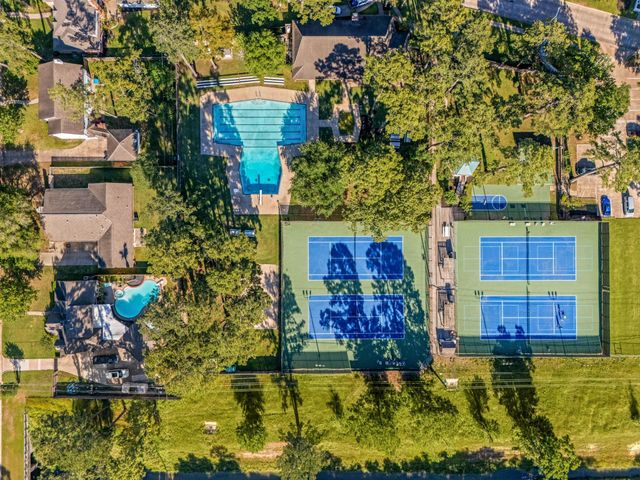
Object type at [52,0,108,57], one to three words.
house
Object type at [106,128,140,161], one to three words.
building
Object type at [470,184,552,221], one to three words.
basketball court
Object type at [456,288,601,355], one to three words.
tennis court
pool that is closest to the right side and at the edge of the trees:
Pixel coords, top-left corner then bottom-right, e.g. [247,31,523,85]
[213,90,307,196]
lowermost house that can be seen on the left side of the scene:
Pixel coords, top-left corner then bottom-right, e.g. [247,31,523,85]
[46,281,102,343]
